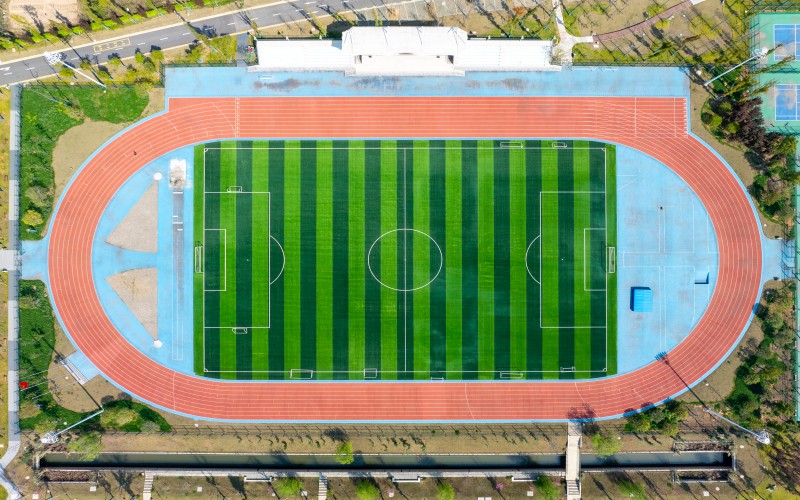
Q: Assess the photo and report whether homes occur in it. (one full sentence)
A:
No, I find no home anywhere in the image.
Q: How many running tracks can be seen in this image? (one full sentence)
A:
The picture shows 1 running track.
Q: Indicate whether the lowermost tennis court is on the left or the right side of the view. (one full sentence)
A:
You can find the lowermost tennis court on the right side of the picture.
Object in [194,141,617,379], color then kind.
green sports field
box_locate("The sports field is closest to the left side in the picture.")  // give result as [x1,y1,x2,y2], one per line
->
[93,139,400,380]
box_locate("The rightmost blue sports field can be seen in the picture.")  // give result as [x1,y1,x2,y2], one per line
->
[400,139,717,380]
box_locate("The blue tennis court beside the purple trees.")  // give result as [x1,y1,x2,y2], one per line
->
[775,84,800,121]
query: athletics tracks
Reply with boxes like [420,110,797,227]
[44,97,766,422]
